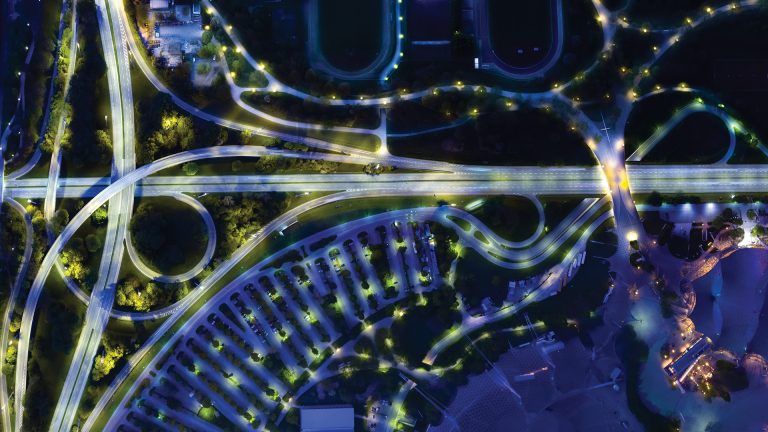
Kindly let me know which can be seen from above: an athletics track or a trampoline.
athletics track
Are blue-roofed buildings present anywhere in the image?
Yes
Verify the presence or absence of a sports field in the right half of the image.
Yes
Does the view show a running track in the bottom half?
No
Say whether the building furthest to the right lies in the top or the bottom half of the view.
bottom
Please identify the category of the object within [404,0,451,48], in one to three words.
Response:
sports court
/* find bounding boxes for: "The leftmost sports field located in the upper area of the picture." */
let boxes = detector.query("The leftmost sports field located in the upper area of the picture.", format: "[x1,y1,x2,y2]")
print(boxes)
[318,0,382,70]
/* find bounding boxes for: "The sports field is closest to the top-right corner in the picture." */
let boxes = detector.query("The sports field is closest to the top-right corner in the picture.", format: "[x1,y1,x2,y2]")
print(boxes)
[488,0,553,68]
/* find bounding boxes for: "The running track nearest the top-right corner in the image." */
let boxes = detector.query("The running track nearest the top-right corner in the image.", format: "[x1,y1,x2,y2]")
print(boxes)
[478,0,563,78]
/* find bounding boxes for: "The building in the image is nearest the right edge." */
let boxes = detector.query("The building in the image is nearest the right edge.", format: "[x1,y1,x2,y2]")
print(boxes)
[664,337,712,382]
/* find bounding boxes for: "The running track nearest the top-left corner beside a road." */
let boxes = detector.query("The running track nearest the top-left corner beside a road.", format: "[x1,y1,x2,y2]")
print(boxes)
[308,0,392,80]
